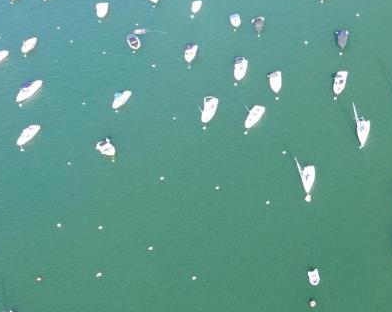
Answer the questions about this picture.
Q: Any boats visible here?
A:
Yes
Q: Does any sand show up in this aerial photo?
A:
No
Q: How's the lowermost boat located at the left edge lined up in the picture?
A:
on a diagonal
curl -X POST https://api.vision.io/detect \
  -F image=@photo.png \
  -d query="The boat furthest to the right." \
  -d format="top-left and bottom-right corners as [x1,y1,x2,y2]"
[353,108,370,146]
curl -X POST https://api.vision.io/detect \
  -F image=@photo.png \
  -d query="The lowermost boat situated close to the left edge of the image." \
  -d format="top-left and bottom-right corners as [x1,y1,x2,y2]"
[15,124,45,145]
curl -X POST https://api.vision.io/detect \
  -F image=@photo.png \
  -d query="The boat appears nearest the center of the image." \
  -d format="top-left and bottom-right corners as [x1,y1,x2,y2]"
[200,95,221,121]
